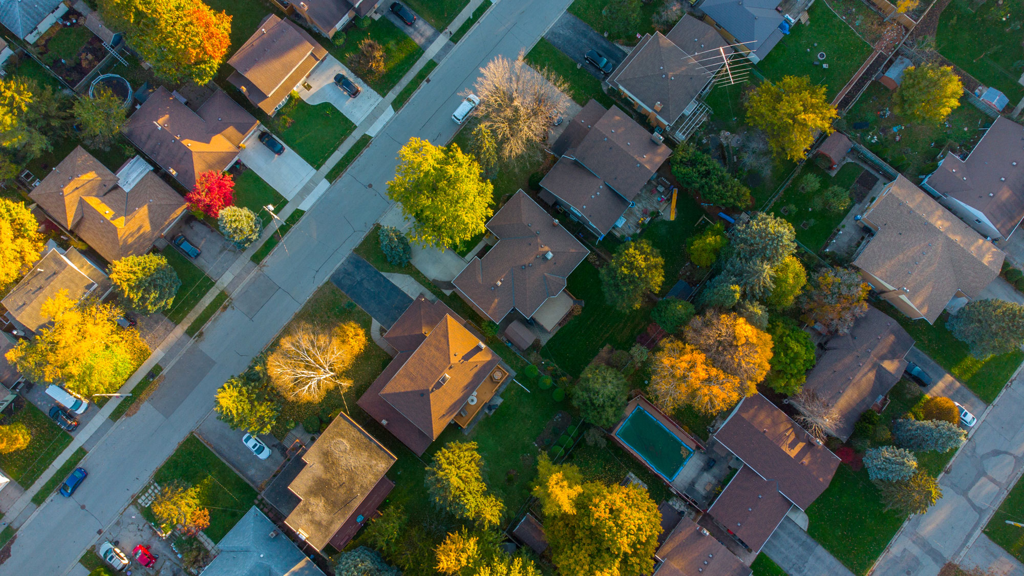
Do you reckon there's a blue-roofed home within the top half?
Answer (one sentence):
Yes, looking within the top half, one can make out a blue-roofed home.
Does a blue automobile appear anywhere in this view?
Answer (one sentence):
Yes, the image includes a blue automobile.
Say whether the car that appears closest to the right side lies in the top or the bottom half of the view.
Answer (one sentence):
It is in the bottom half that the car that appears closest to the right side appears.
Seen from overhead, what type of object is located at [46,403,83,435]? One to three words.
truck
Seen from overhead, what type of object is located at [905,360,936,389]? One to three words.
car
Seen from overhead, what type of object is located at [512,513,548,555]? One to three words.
shed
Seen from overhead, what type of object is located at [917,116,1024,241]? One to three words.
house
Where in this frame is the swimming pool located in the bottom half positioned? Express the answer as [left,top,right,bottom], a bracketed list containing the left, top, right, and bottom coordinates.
[610,395,706,487]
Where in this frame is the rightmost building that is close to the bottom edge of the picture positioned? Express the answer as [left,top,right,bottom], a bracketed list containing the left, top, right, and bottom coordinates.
[705,391,842,554]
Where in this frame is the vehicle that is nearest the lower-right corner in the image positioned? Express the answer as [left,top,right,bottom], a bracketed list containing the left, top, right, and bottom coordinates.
[954,400,980,431]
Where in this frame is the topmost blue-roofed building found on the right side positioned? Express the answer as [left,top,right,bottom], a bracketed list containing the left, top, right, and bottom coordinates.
[696,0,786,62]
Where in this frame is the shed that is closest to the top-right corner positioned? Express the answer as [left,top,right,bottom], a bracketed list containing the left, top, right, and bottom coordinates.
[972,87,1010,115]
